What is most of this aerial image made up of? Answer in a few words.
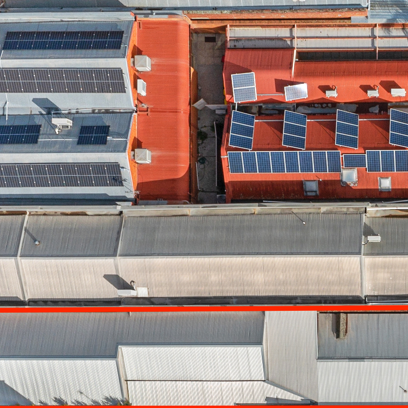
buildings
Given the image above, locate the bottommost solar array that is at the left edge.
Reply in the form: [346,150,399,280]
[0,164,123,188]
